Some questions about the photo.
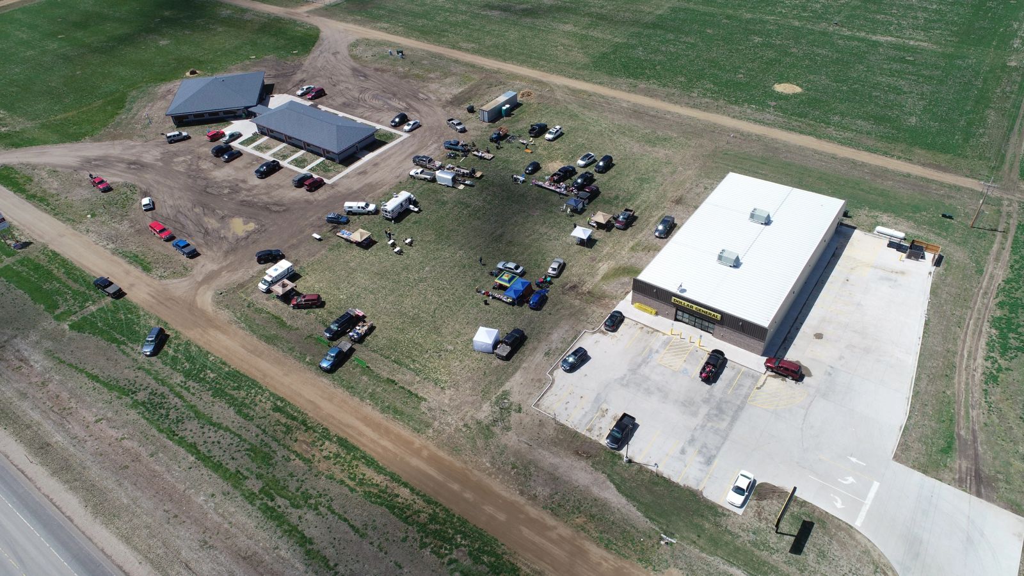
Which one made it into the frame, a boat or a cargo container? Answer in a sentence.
It is a cargo container that can be seen here.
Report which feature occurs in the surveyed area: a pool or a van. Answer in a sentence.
Looking from above, you can make out a van.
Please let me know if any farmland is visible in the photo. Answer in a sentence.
Yes, the picture does contain farmland.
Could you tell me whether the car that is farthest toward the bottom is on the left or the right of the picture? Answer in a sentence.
You can find the car that is farthest toward the bottom on the right side of the picture.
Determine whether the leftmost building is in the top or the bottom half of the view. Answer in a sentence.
The top half of the photo is where the leftmost building is.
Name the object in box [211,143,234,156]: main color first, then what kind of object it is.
black vehicle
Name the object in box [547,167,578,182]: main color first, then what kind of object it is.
black vehicle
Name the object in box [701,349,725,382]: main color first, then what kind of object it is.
black truck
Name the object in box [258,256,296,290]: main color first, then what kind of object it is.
white van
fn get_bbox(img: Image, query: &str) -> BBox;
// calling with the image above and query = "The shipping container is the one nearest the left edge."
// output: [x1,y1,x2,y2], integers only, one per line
[479,92,518,122]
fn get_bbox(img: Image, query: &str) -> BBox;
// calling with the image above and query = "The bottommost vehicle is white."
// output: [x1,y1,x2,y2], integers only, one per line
[727,469,757,508]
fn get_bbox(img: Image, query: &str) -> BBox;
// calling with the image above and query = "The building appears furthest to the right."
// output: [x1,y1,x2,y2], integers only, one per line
[633,171,852,355]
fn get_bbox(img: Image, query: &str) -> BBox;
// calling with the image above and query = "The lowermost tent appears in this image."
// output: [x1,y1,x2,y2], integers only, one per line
[473,327,499,355]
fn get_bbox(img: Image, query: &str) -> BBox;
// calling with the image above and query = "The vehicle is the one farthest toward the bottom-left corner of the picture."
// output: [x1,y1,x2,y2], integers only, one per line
[141,326,165,355]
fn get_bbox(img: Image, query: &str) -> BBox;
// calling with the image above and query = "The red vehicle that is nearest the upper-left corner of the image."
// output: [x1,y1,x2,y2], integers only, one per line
[87,176,110,191]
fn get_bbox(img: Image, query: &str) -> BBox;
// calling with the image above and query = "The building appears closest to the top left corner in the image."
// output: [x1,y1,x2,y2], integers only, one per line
[166,72,263,125]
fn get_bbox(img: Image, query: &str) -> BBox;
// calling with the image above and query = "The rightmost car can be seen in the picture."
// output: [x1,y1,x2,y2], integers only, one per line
[763,359,805,379]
